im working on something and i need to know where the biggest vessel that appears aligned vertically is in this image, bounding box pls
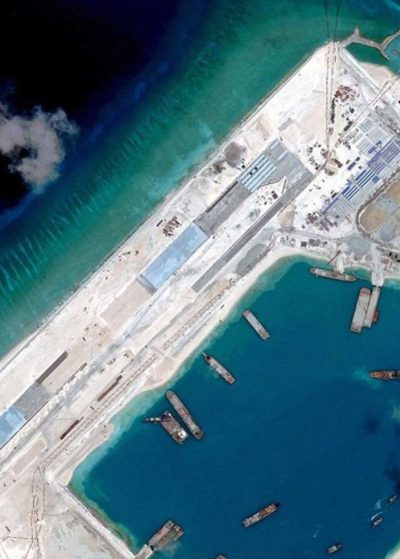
[350,287,371,334]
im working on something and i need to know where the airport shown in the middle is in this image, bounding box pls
[0,138,315,451]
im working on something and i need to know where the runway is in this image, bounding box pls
[0,154,275,451]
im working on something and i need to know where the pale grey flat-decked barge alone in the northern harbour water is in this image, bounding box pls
[242,308,271,341]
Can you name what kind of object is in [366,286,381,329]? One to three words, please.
ship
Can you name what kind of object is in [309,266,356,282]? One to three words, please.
ship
